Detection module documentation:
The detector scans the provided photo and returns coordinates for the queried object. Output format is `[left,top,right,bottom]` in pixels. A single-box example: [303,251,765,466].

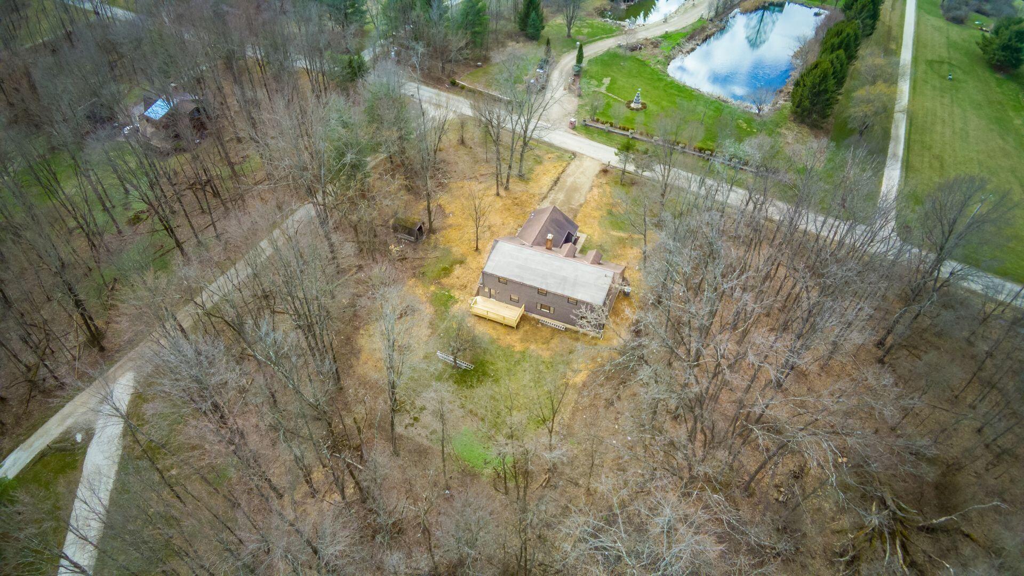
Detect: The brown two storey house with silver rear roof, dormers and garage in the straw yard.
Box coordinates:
[470,204,630,338]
